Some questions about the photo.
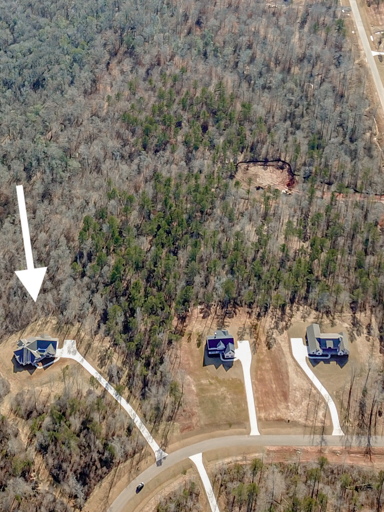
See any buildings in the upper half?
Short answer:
No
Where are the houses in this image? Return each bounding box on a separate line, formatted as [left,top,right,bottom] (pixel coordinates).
[206,322,235,358]
[14,329,59,367]
[308,322,349,357]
